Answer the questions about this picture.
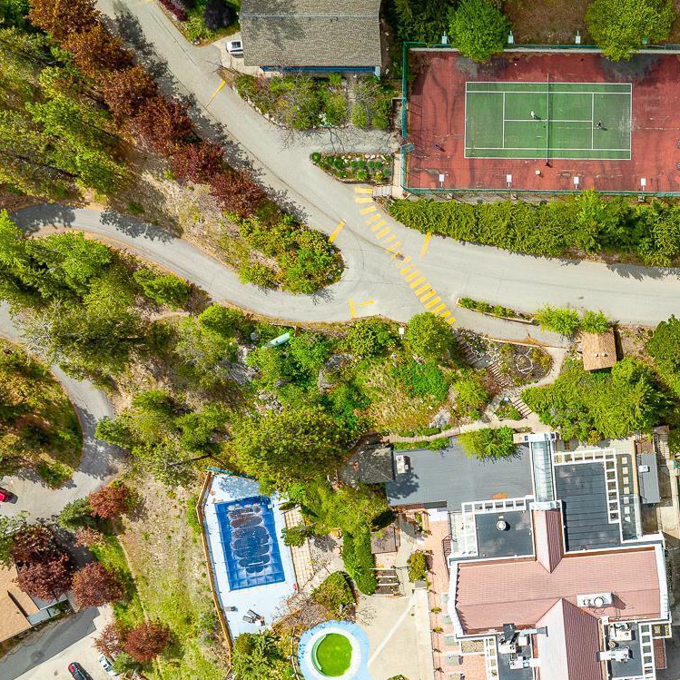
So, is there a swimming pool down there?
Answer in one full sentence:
Yes, the picture does show a swimming pool.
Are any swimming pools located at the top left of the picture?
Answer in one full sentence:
No, no swimming pool appears at the top left of the picture.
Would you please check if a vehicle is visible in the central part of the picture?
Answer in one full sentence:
No, there is no vehicle in the central part of the picture.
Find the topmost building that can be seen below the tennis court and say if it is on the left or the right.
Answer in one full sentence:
The topmost building that can be seen below the tennis court is on the right side of the image.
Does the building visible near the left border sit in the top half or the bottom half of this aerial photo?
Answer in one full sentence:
It is in the bottom half that the building visible near the left border appears.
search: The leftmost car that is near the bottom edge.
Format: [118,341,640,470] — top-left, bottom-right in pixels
[70,660,92,680]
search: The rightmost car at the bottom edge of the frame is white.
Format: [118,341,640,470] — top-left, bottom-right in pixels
[98,652,119,679]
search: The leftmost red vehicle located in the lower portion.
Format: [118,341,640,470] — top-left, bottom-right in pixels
[0,490,17,504]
